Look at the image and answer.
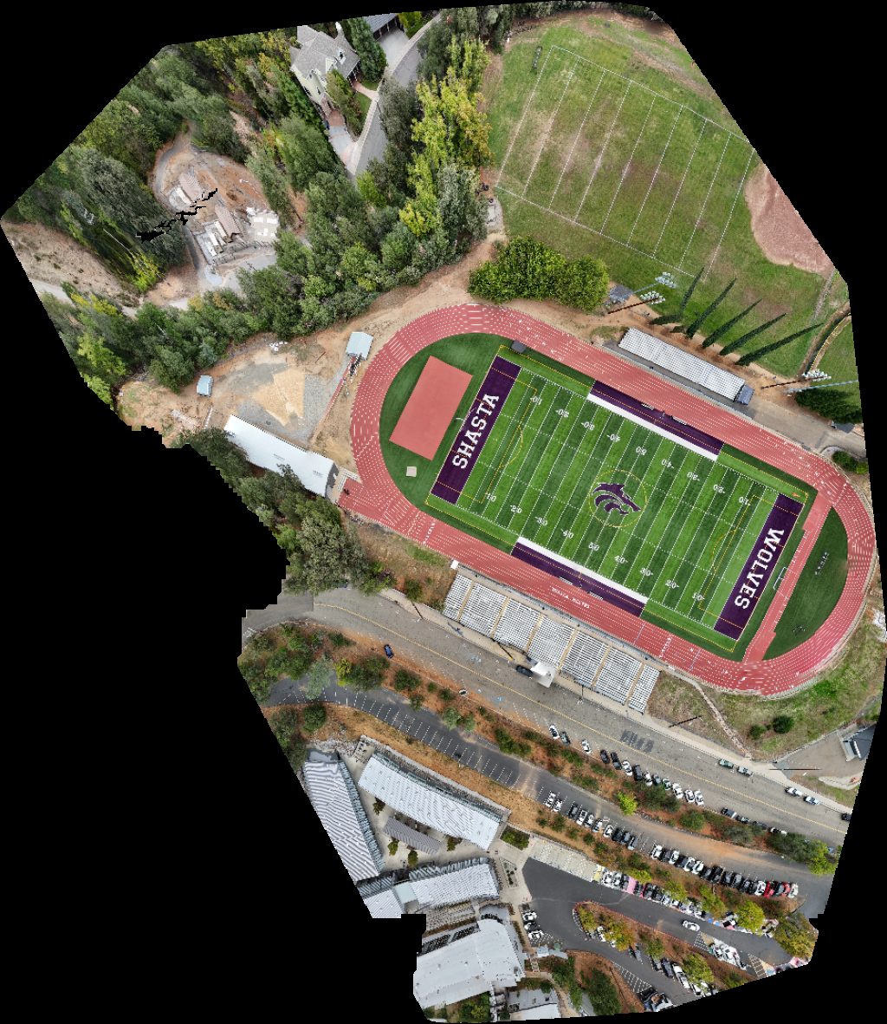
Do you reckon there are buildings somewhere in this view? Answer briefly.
Yes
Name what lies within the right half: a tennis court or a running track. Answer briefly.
running track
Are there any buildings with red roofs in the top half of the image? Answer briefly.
No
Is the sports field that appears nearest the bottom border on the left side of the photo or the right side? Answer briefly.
right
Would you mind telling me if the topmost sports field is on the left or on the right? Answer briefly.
right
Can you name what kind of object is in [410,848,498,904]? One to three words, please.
building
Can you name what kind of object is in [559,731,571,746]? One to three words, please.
vehicle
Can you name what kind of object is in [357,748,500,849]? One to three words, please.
building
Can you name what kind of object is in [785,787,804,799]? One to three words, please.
vehicle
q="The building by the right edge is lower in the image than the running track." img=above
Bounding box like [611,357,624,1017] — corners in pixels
[839,723,874,762]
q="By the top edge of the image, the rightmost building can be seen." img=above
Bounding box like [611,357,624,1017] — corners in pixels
[365,6,396,41]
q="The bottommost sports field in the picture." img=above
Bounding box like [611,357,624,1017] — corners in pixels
[379,333,850,661]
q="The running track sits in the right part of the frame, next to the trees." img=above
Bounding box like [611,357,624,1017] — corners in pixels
[339,304,876,695]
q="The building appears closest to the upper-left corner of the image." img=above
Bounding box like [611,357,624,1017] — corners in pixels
[292,21,361,103]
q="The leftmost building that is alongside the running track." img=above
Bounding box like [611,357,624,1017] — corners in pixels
[220,414,335,496]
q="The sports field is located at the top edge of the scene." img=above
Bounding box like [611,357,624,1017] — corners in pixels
[488,15,828,381]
